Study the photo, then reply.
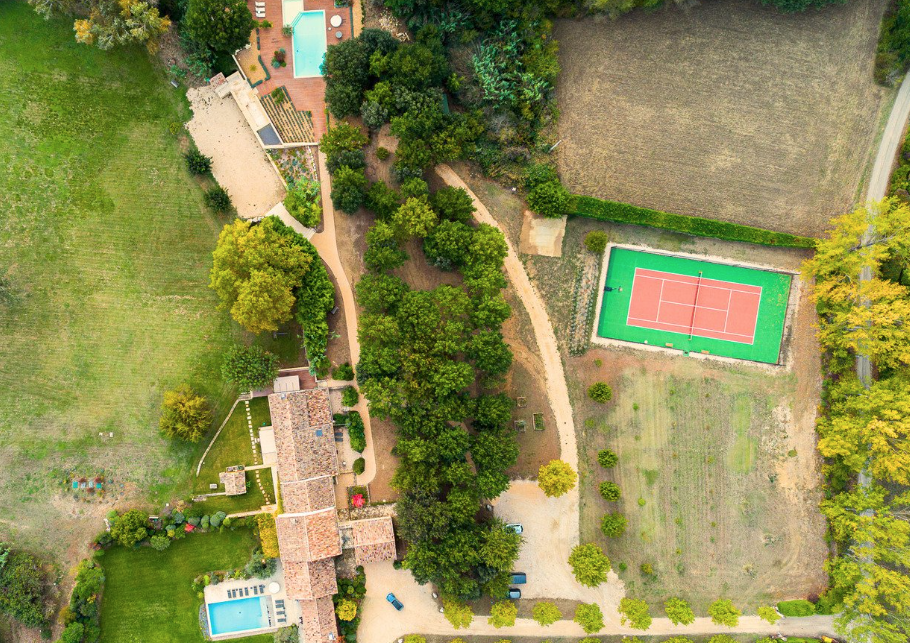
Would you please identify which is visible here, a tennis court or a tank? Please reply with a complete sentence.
I can see a tennis court in this picture.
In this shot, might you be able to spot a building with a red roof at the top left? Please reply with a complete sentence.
No, at the top left there is no building with a red roof.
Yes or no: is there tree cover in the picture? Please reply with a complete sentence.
Yes, some tree cover is visible.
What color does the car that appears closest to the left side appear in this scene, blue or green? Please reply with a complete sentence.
From above, the car that appears closest to the left side appears blue.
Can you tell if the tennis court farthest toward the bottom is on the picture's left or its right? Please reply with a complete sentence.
The tennis court farthest toward the bottom appears in the right half of the scene.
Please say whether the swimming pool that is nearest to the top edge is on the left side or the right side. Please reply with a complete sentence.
It is on the left.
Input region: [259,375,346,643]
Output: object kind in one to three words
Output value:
house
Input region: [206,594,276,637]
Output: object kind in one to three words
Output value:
swimming pool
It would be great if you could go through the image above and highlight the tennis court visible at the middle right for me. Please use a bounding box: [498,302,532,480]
[591,242,795,364]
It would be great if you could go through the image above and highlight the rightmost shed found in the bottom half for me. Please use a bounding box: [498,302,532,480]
[351,514,396,565]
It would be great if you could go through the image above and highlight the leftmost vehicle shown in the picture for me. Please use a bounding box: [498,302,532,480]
[385,591,404,611]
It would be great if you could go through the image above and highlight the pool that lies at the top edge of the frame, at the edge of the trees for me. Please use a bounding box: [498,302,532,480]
[291,9,327,80]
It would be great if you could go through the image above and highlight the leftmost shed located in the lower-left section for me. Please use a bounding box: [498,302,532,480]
[219,471,250,496]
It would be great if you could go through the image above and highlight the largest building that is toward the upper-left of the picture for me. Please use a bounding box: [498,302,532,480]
[211,71,285,152]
